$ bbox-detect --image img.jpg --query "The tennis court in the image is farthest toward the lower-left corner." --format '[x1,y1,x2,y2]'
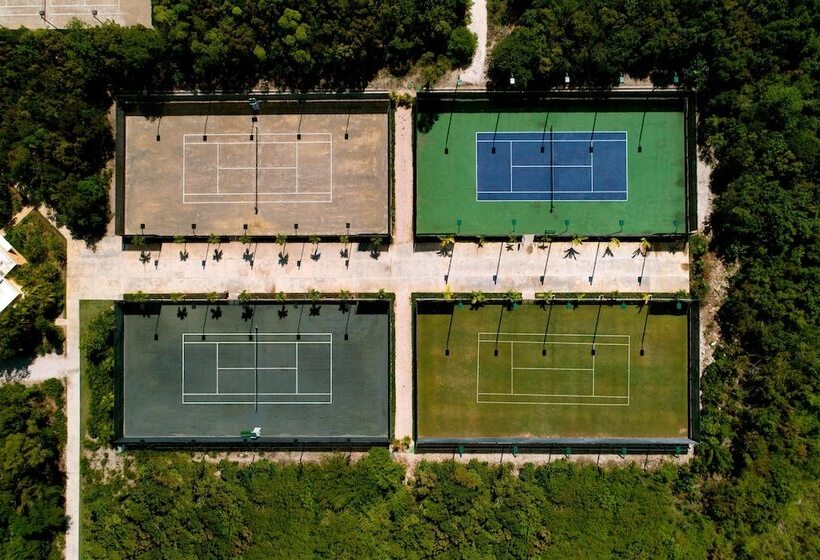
[123,301,388,437]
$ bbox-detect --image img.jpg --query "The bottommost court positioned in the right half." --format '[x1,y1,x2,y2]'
[418,300,690,437]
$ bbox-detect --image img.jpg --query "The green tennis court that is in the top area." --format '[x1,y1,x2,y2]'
[416,99,687,234]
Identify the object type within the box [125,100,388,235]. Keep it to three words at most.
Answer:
tennis court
